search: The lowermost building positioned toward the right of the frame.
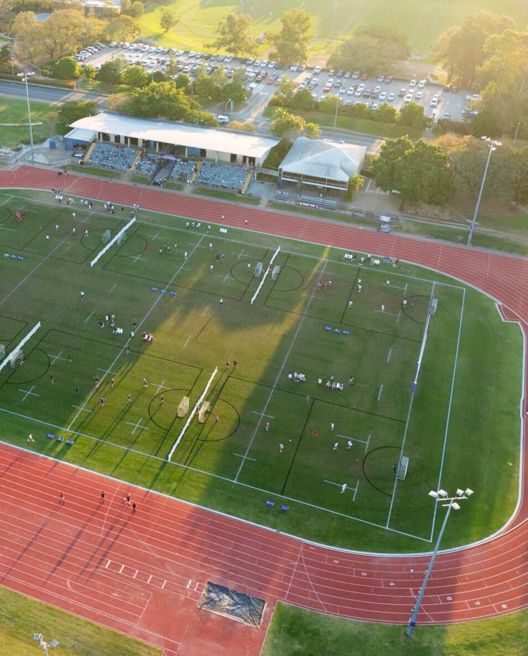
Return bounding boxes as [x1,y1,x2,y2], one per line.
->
[278,138,366,201]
